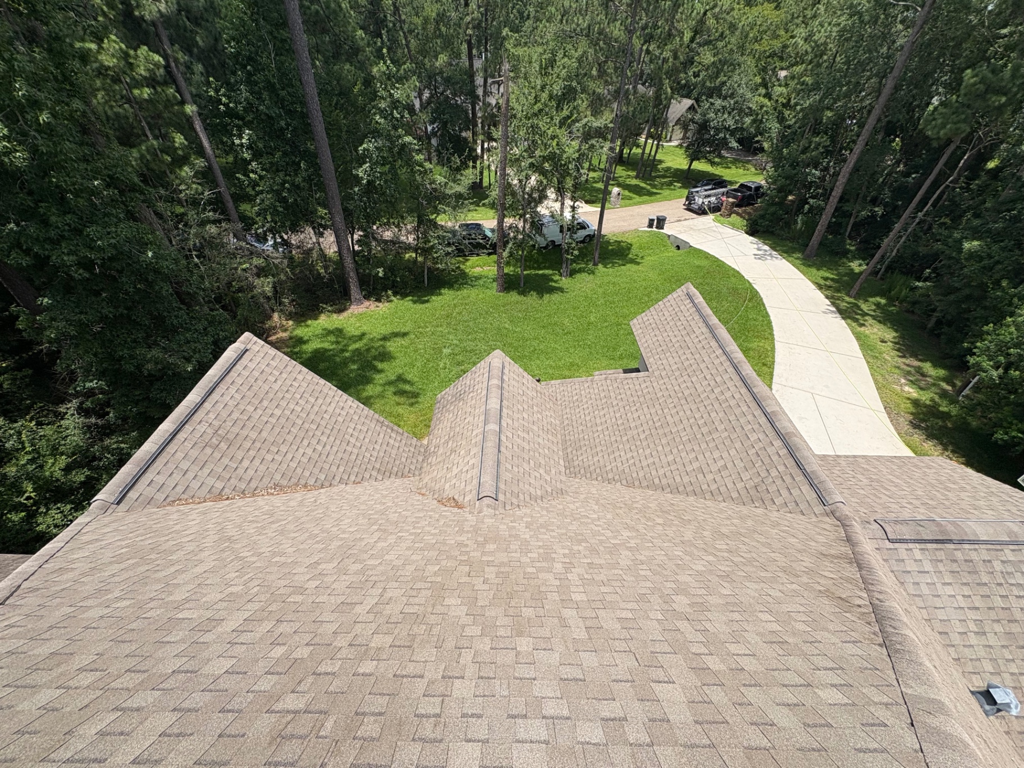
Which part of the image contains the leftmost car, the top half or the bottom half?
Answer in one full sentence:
The top half of the photo is where the leftmost car is.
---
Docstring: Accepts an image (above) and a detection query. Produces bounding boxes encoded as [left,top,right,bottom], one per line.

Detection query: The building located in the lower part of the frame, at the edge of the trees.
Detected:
[0,282,1024,768]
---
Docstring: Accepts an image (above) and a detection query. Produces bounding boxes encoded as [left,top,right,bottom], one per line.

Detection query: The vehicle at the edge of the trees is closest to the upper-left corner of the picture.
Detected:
[445,216,498,251]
